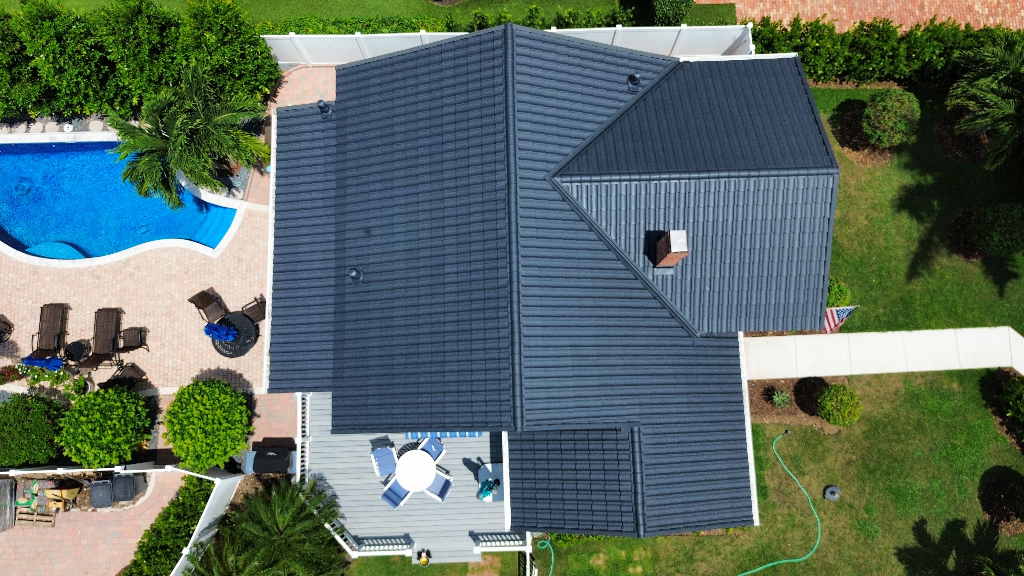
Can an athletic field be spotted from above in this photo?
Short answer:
No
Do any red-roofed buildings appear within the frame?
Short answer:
No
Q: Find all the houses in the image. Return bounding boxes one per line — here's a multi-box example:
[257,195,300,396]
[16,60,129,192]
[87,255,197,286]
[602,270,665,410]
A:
[262,20,843,540]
